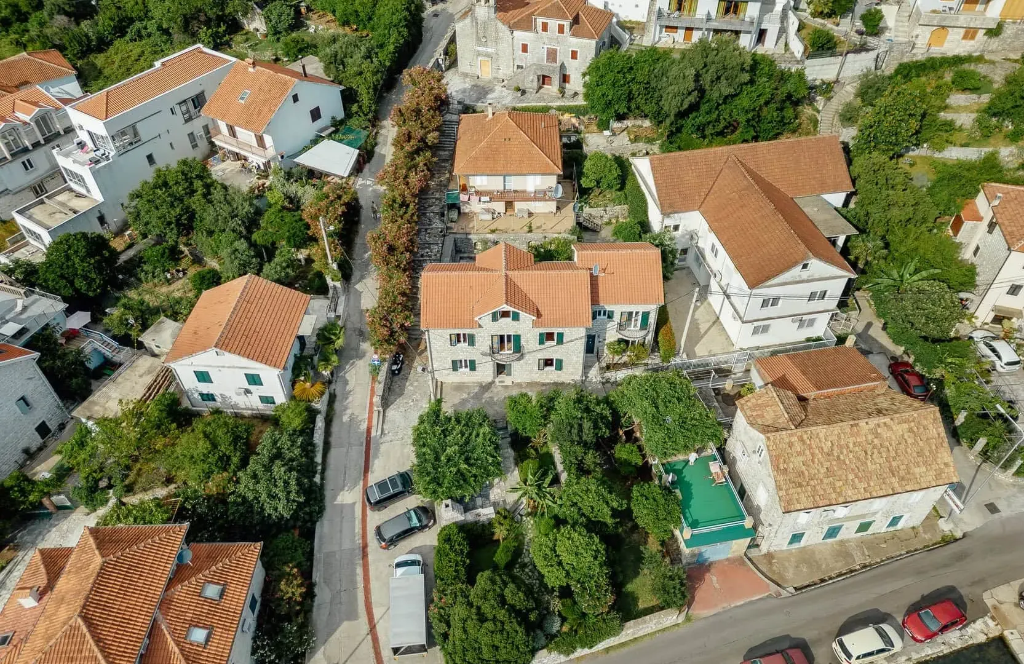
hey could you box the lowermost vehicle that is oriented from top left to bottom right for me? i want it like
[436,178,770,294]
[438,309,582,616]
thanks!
[888,358,934,404]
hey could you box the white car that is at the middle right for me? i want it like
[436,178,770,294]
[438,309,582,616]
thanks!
[970,329,1024,376]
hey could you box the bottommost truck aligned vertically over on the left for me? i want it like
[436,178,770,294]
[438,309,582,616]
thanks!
[387,554,428,658]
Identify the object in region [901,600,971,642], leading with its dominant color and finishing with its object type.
red car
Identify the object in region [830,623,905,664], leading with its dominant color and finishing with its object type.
white car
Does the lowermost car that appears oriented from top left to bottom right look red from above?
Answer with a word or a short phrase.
Yes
